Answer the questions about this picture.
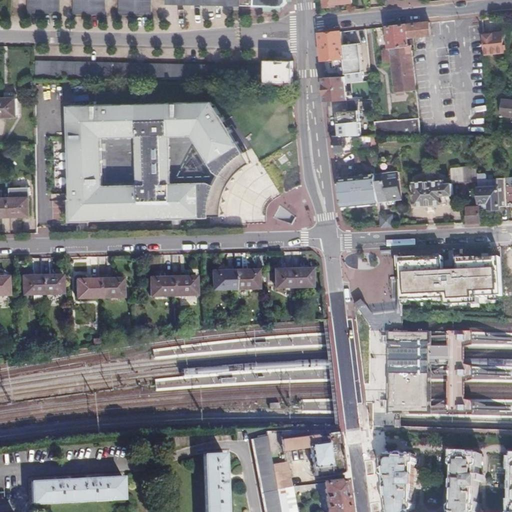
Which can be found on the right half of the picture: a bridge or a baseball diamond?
bridge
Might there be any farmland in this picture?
No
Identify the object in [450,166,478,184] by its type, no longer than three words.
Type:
shed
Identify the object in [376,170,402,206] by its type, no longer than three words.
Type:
house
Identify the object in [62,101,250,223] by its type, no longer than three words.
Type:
building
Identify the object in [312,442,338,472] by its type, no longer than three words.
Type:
house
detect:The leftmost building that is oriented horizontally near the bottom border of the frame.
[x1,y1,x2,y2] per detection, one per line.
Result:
[31,475,129,506]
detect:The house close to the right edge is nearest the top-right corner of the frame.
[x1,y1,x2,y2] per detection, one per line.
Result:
[482,30,507,56]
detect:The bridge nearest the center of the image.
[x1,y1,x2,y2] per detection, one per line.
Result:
[324,292,366,429]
